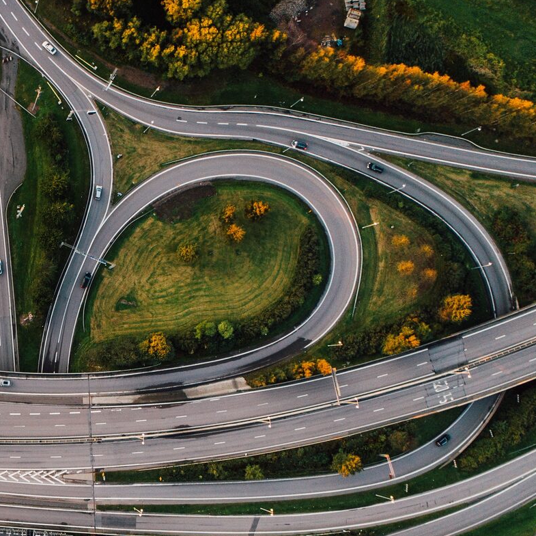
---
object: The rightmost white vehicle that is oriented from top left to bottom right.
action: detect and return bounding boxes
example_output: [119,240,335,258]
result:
[41,40,56,56]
